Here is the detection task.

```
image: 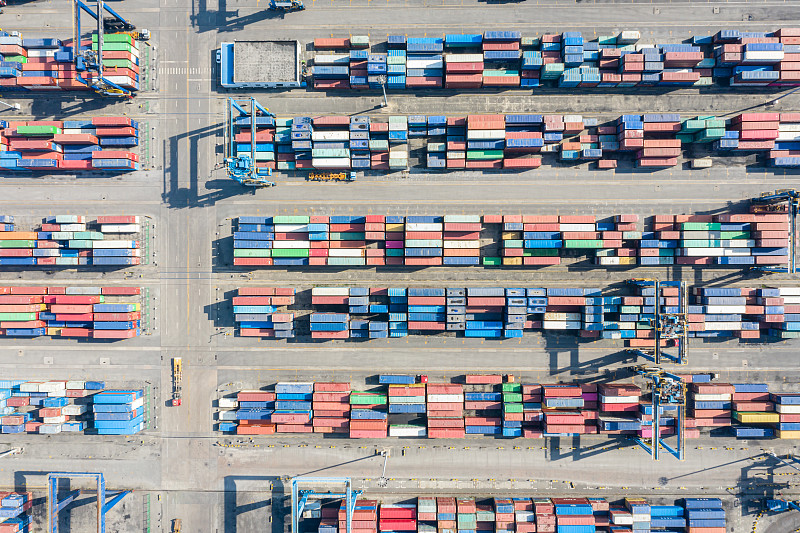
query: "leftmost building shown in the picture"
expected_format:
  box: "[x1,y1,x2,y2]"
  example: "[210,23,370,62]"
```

[220,40,302,90]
